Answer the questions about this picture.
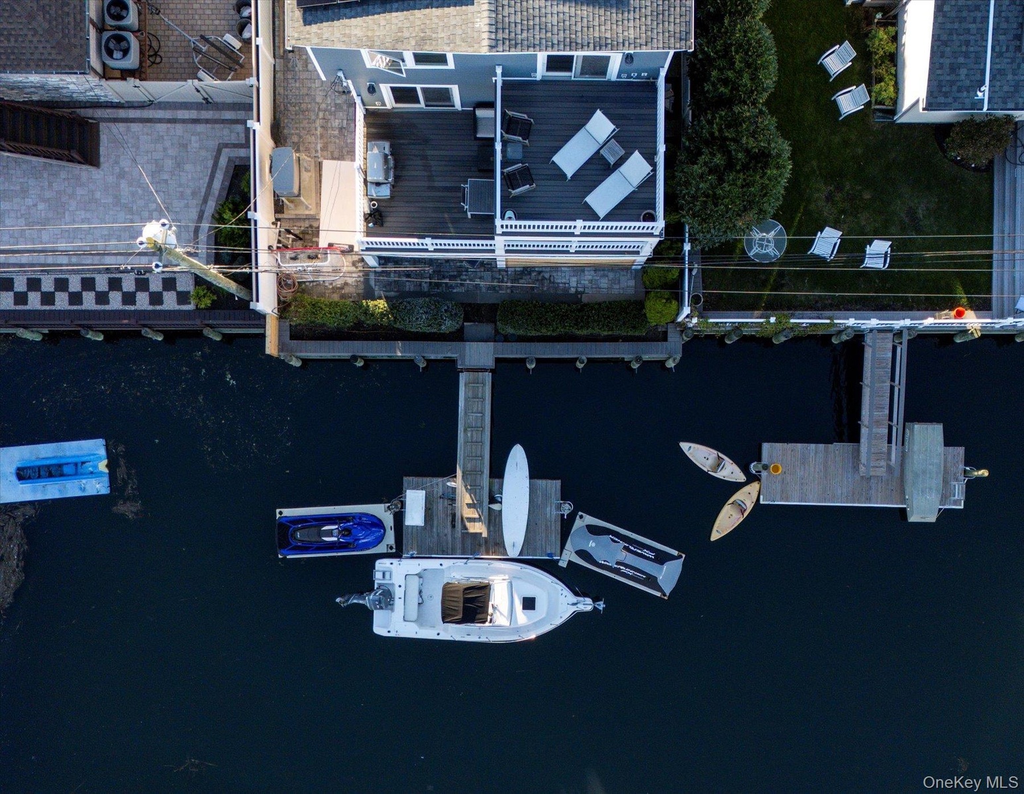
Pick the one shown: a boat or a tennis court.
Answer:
boat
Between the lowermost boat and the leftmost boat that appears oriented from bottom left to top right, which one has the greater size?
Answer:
the lowermost boat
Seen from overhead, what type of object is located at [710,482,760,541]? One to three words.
boat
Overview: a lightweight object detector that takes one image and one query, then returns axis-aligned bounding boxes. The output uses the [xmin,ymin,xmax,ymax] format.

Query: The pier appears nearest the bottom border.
[389,477,572,557]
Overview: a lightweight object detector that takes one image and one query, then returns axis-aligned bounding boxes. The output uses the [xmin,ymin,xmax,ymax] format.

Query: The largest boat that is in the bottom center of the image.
[337,558,605,643]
